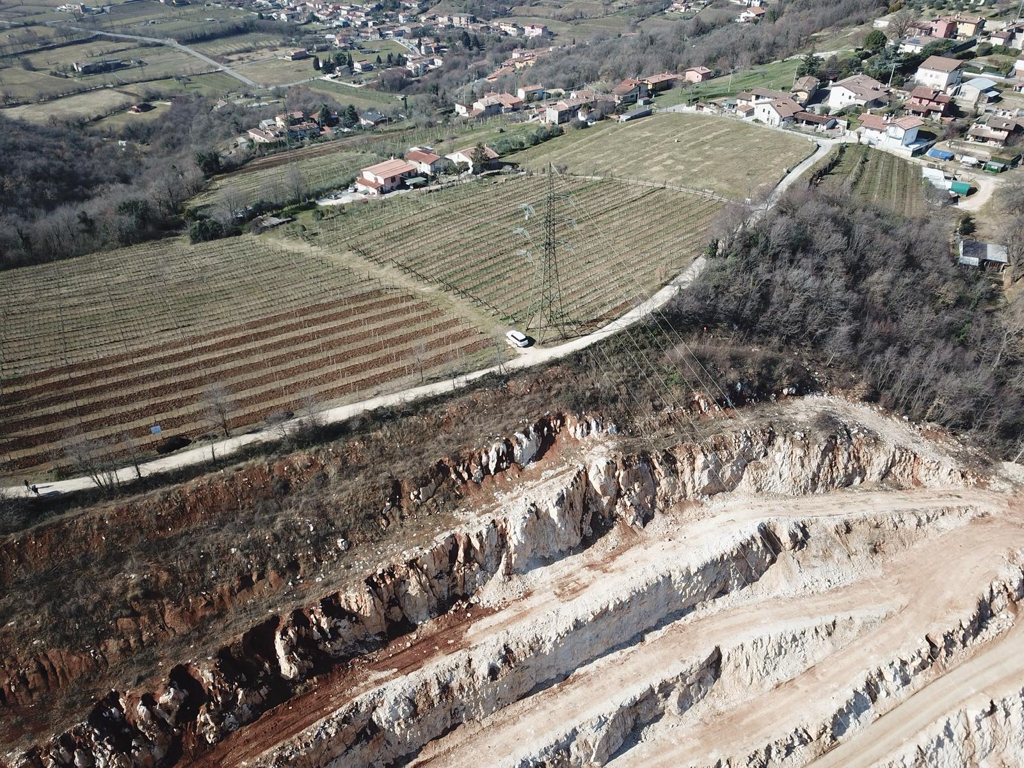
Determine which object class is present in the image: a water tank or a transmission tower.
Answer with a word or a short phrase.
transmission tower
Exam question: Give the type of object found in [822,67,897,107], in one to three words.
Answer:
house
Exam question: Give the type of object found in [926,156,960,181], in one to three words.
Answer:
greenhouse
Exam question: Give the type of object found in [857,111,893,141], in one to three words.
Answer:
house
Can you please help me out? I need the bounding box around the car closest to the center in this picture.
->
[506,330,530,345]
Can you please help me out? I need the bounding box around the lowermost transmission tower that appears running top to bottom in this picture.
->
[517,163,581,346]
